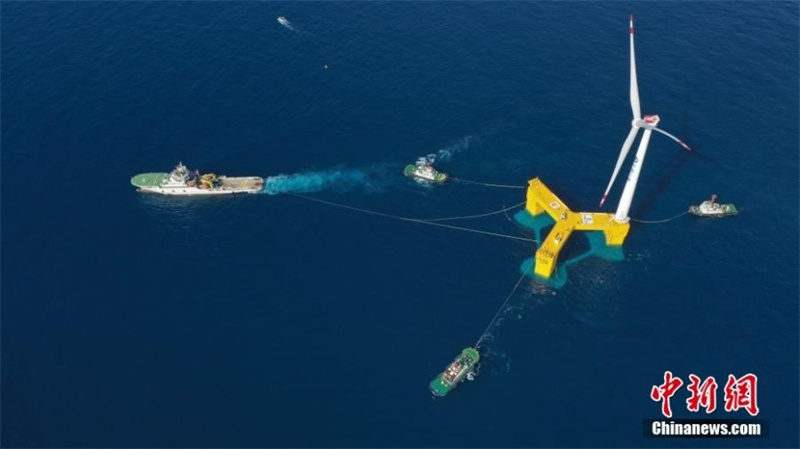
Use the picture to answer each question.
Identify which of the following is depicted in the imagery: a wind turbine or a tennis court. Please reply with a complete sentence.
There is a wind turbine in the scene.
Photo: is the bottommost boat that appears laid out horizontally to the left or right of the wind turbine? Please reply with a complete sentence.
You can see the bottommost boat that appears laid out horizontally positioned to the right of the wind turbine.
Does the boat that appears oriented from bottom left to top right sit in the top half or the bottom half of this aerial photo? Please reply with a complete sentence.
Seen from above, the boat that appears oriented from bottom left to top right lies in the bottom half of the view.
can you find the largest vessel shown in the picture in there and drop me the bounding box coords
[130,159,266,197]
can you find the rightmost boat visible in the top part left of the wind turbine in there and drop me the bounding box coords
[402,162,450,187]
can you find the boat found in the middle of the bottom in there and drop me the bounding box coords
[428,349,482,399]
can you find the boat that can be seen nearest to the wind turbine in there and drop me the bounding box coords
[689,198,741,221]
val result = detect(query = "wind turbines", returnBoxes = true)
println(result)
[600,14,691,223]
